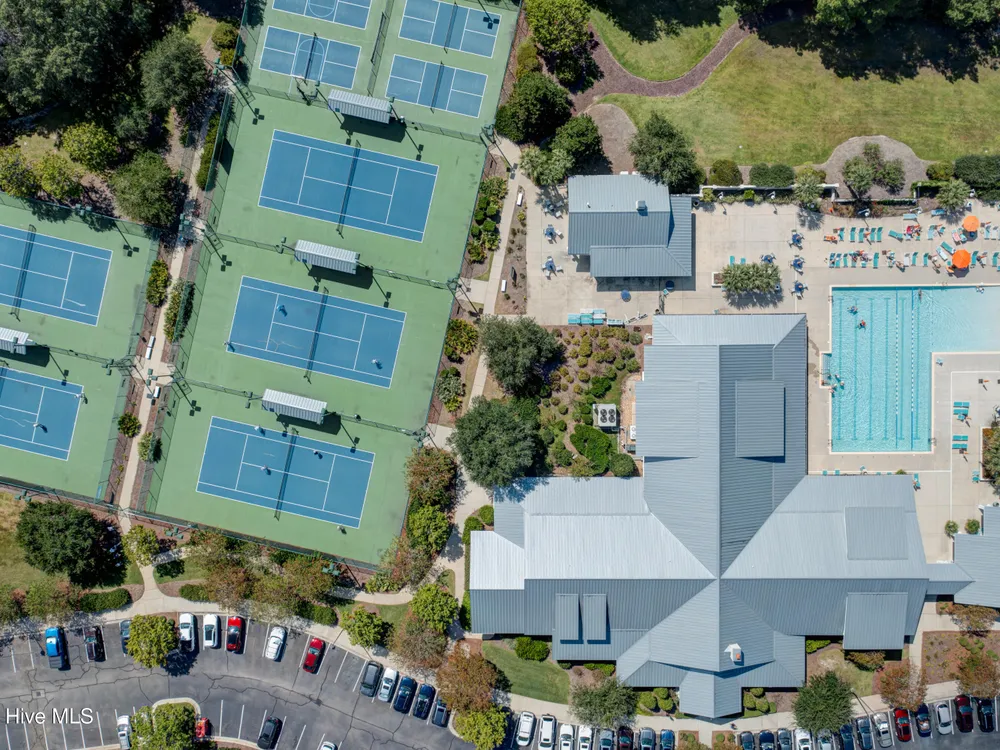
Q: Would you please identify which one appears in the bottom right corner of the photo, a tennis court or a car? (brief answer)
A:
car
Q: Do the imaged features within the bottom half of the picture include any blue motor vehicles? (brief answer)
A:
Yes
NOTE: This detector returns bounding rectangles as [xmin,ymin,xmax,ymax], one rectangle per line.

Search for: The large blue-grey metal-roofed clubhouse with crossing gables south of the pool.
[471,314,929,719]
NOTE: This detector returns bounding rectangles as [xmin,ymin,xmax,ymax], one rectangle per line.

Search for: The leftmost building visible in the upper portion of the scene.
[569,164,691,276]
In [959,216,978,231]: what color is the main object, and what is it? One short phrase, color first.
orange umbrella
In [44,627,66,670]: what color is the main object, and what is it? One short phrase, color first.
blue vehicle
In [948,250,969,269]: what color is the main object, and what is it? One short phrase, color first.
orange umbrella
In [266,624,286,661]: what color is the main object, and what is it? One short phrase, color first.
white car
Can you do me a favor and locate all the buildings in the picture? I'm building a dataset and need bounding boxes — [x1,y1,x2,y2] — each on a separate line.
[569,164,691,276]
[471,314,929,719]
